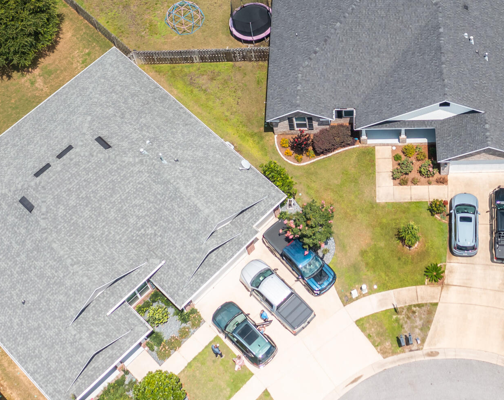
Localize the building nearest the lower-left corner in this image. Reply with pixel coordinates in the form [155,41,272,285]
[0,45,286,400]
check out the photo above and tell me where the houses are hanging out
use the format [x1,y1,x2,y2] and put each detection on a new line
[0,45,286,400]
[266,0,504,174]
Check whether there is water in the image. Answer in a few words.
No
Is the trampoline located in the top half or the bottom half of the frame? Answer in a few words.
top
